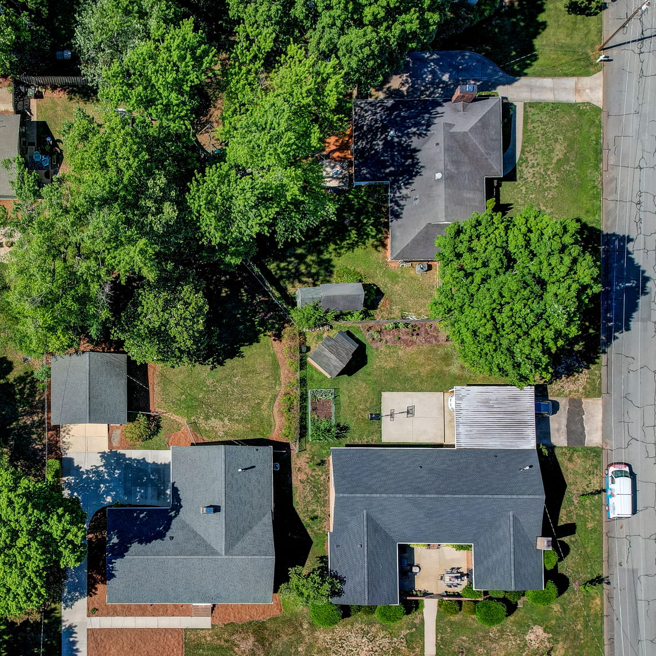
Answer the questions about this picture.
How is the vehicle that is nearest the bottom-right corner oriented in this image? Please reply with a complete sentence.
What the image shows is the vehicle that is nearest the bottom-right corner lying vertically.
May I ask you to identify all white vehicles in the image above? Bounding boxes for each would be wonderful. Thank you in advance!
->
[447,397,453,412]
[607,463,635,518]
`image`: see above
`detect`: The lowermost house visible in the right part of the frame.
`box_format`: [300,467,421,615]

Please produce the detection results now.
[329,448,552,607]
